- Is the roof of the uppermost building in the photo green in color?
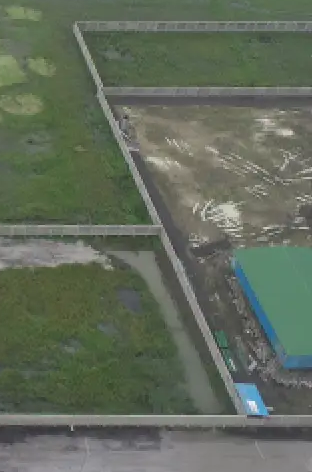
Yes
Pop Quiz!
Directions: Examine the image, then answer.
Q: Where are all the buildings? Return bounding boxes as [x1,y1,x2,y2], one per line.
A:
[235,384,268,415]
[231,246,312,369]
